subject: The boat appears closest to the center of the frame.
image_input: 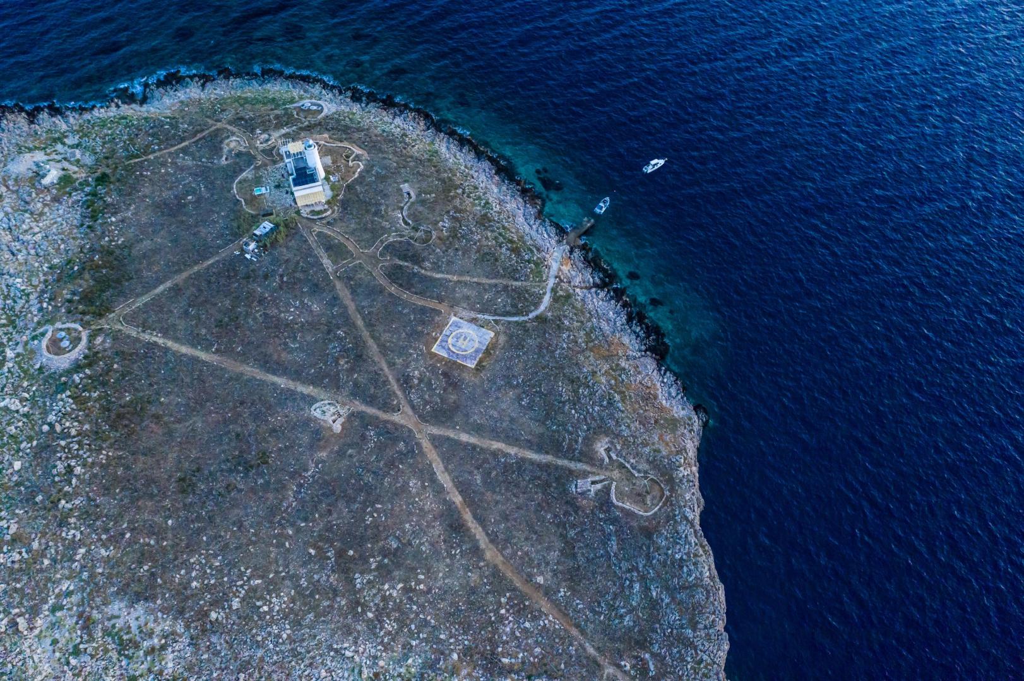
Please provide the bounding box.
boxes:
[594,196,609,214]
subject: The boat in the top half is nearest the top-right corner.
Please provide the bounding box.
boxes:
[643,158,668,174]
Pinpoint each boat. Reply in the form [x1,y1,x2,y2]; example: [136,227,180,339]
[643,158,668,174]
[594,196,609,214]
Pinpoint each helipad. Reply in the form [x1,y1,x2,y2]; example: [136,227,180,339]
[432,317,494,368]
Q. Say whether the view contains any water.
Yes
